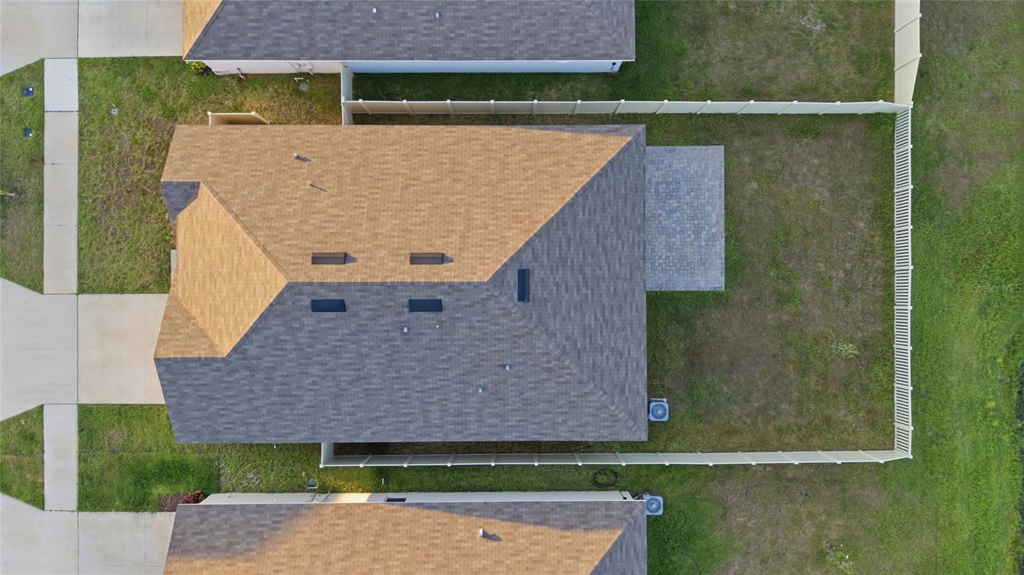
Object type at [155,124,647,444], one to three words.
house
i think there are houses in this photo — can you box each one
[160,484,646,575]
[155,124,647,444]
[182,0,635,82]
